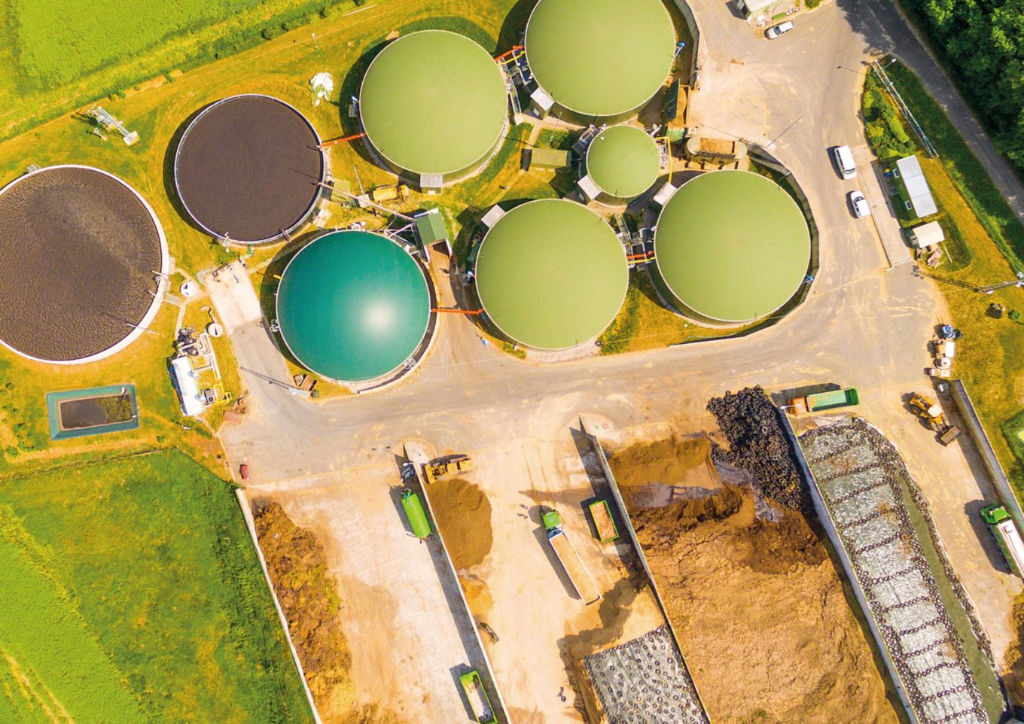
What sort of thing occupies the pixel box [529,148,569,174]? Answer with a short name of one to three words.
shed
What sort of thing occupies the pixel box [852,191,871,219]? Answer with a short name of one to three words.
car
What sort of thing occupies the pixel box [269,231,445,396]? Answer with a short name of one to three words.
storage tank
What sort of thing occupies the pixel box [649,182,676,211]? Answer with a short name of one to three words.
shed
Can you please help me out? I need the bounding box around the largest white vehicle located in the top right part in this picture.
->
[835,143,857,180]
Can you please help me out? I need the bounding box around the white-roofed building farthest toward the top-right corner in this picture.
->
[887,155,937,223]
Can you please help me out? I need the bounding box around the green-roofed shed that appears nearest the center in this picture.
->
[417,212,448,252]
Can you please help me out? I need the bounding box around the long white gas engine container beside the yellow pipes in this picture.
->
[172,357,210,415]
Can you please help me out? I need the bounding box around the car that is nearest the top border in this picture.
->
[764,18,797,41]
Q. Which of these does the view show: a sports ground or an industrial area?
industrial area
